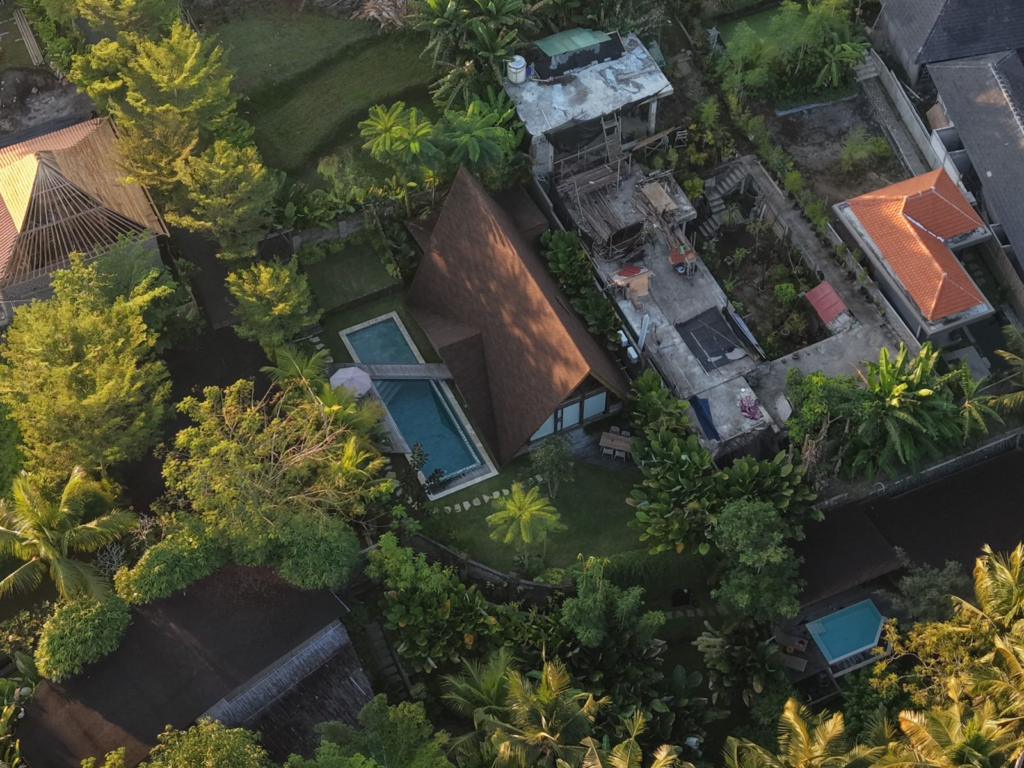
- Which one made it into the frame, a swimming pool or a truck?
swimming pool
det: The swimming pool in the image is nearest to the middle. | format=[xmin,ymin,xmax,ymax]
[339,312,497,502]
